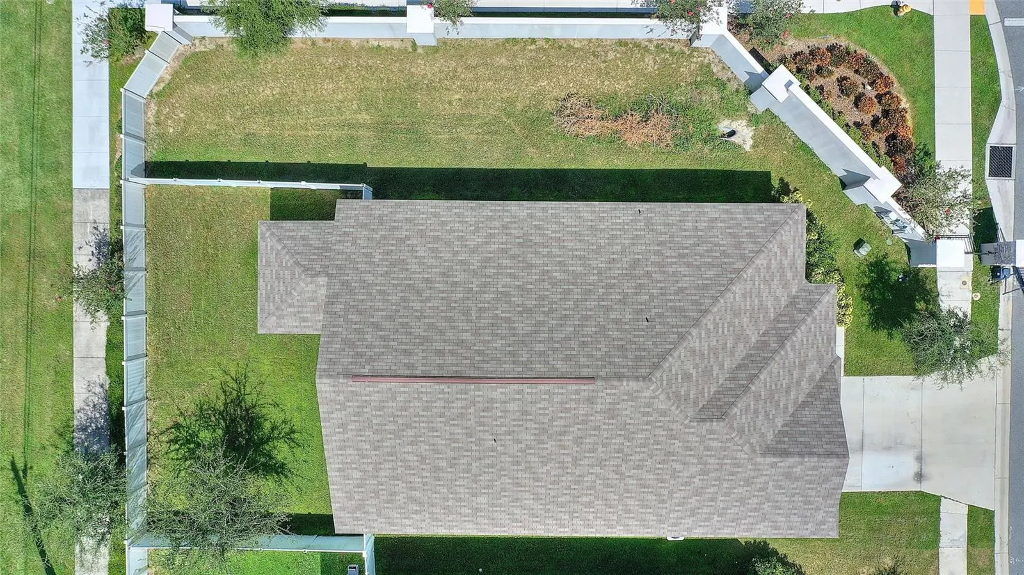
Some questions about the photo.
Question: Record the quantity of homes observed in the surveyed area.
1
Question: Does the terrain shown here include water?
No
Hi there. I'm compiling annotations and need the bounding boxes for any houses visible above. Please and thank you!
[255,200,849,539]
